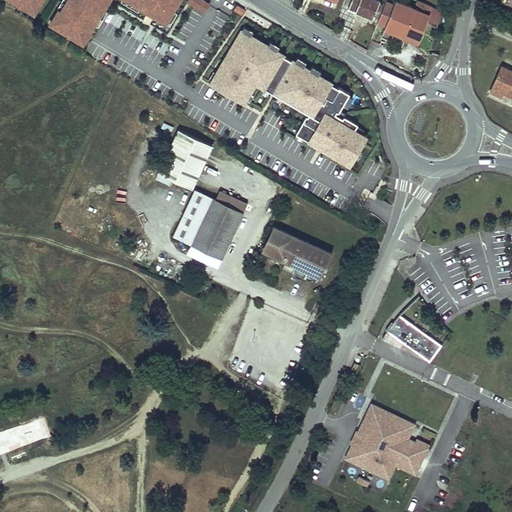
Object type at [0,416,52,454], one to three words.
building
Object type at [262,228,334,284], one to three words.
house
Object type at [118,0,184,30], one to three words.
house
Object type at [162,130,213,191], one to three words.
shed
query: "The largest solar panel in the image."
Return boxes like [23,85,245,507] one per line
[290,256,327,284]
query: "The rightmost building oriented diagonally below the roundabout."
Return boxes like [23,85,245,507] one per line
[387,316,442,363]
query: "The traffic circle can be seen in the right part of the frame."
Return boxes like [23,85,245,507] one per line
[387,81,484,178]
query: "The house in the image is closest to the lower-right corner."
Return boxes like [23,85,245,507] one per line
[344,400,430,484]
